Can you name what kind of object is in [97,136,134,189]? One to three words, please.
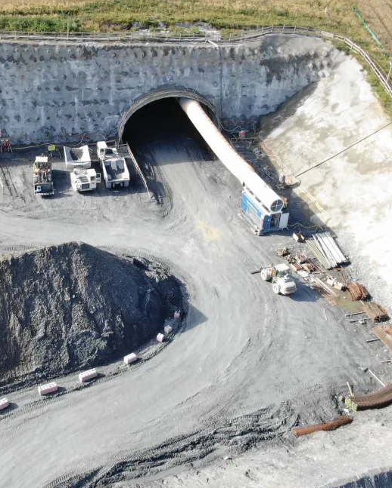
truck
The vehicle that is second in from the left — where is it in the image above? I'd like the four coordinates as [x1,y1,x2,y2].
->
[62,142,100,192]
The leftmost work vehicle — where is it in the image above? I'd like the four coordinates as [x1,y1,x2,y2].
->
[34,151,59,196]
